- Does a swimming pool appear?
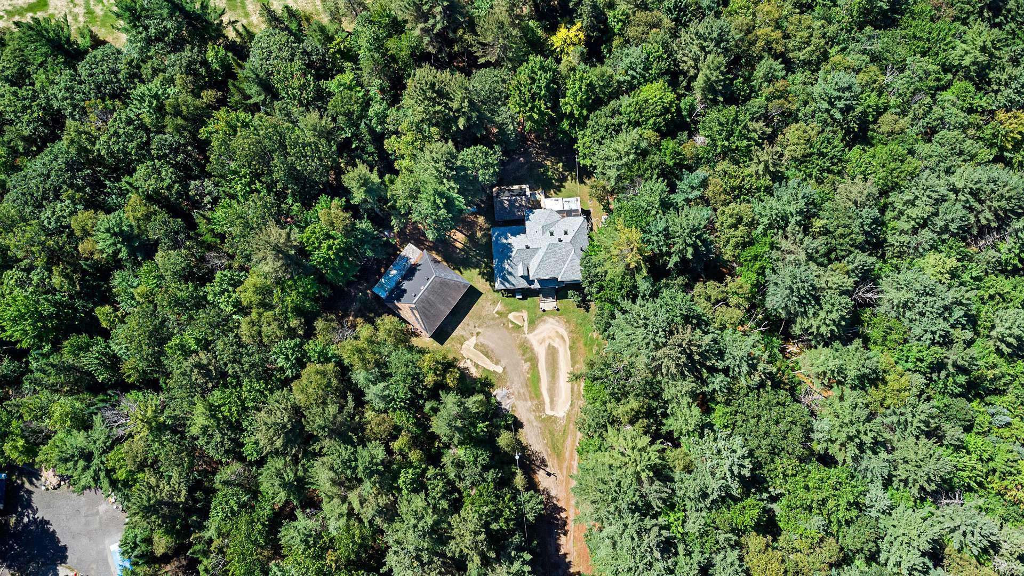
No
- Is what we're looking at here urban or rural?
rural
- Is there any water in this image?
No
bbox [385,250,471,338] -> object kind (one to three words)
barn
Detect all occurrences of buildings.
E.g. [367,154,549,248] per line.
[491,207,589,303]
[385,250,471,338]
